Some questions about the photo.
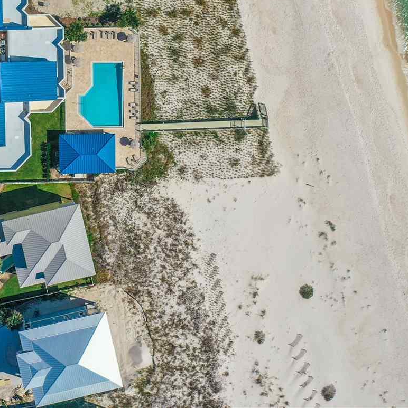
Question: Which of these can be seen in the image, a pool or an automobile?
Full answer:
Looking from above, you can make out a pool.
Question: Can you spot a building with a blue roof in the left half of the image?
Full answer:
Yes, I can see a building with a blue roof in the left half of the image.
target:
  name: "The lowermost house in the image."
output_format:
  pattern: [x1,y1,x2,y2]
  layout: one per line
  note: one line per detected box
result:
[16,301,123,408]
